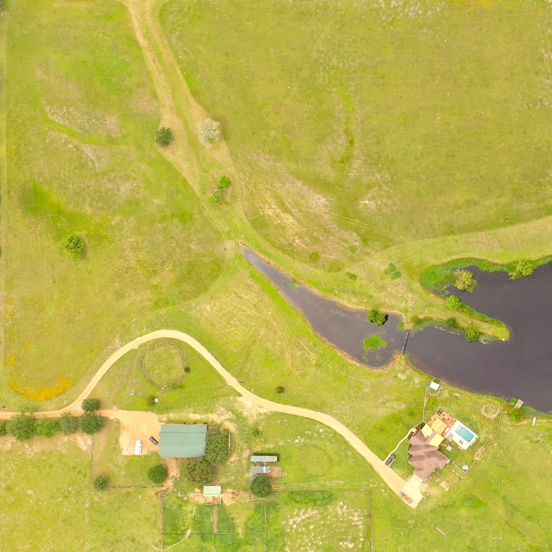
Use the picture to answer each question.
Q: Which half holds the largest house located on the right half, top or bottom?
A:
bottom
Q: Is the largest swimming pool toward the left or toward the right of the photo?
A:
right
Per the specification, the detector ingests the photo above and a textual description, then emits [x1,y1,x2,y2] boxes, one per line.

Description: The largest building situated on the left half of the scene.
[158,424,208,458]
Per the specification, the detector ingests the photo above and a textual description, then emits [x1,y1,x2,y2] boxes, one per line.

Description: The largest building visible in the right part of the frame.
[407,418,449,482]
